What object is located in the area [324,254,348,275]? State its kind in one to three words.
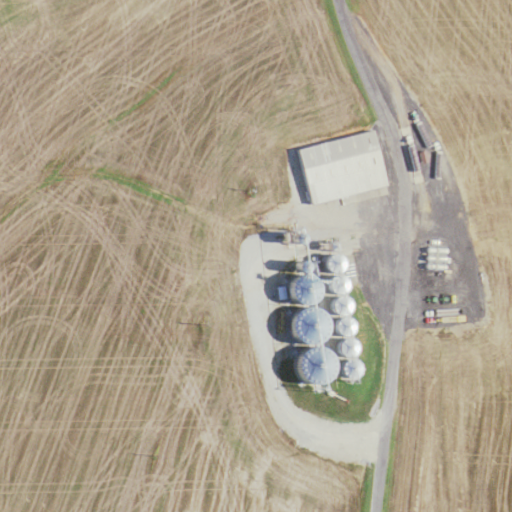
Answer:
silo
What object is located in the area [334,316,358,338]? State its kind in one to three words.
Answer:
silo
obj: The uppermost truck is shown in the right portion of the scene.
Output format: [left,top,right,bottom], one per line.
[410,110,434,150]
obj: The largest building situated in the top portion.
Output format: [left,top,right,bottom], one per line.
[297,131,386,205]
